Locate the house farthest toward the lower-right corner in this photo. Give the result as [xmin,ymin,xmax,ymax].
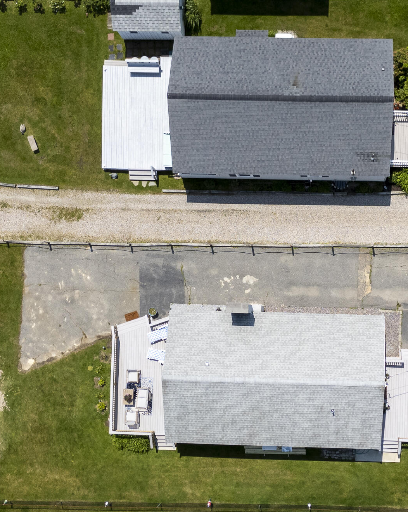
[165,304,384,451]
